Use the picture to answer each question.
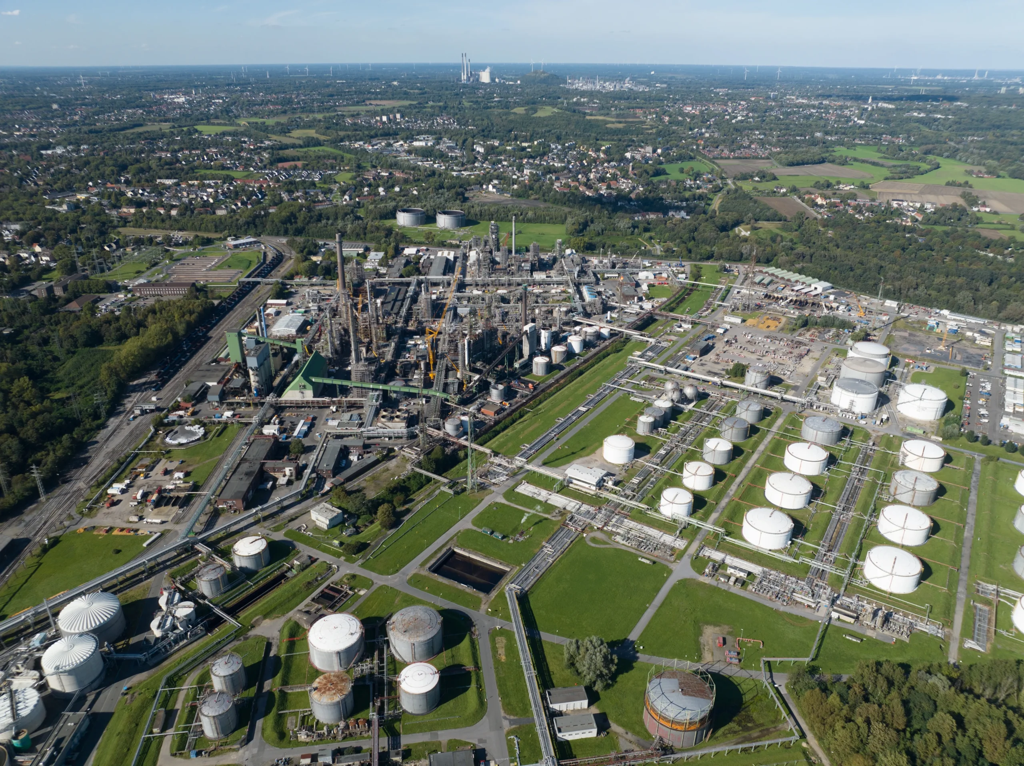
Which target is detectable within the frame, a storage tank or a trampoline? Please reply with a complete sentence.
It is a storage tank that can be seen here.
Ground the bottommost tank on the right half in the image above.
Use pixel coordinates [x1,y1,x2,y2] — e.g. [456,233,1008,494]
[651,665,721,750]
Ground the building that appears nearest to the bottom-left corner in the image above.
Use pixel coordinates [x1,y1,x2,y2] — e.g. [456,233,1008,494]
[28,712,94,766]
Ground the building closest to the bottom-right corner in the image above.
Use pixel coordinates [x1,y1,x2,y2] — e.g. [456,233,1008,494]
[830,604,858,630]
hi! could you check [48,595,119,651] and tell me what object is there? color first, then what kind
white storage tank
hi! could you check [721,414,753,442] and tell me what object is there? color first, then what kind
gray storage tank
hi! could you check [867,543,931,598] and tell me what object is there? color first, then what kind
white storage tank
